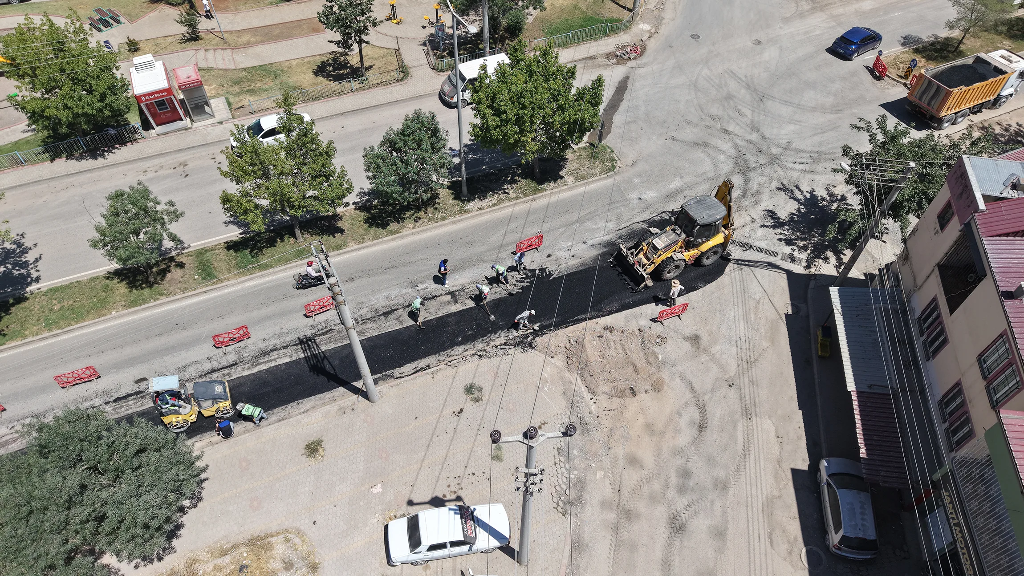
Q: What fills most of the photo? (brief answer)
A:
paved ground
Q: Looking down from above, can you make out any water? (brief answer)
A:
No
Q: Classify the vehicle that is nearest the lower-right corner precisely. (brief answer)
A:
car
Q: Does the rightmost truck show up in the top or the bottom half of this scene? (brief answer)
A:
top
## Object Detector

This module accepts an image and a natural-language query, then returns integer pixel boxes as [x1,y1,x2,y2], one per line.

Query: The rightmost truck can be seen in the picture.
[905,34,1024,126]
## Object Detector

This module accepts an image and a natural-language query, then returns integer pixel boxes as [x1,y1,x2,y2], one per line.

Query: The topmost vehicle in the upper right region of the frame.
[829,23,887,60]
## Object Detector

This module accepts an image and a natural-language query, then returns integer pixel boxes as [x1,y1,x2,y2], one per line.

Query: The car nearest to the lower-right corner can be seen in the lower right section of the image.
[819,455,887,569]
